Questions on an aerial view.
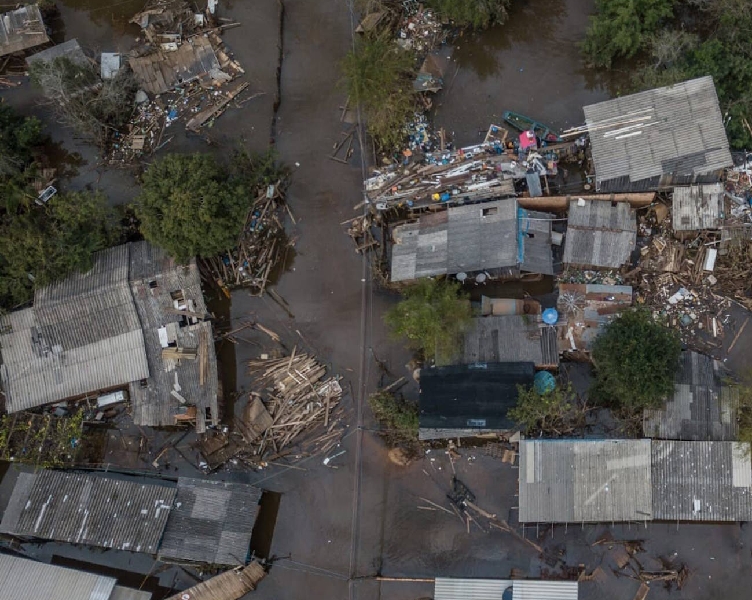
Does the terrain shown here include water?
Yes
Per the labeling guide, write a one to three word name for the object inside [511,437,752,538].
house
